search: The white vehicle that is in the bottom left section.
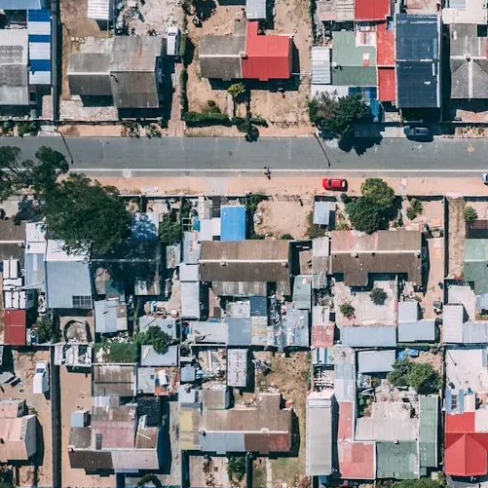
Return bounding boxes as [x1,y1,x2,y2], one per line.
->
[29,364,46,392]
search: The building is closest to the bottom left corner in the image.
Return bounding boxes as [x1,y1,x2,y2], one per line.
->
[0,398,37,460]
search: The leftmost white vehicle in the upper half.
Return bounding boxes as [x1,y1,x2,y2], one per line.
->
[163,27,178,54]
